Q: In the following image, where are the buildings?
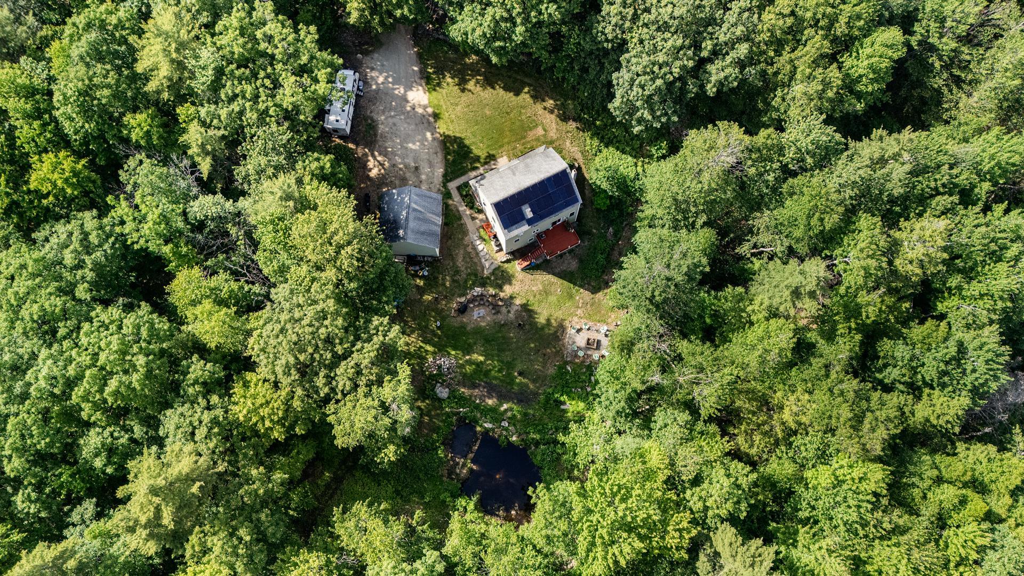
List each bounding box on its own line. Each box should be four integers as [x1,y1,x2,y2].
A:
[469,146,583,254]
[375,184,443,256]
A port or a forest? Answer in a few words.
forest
